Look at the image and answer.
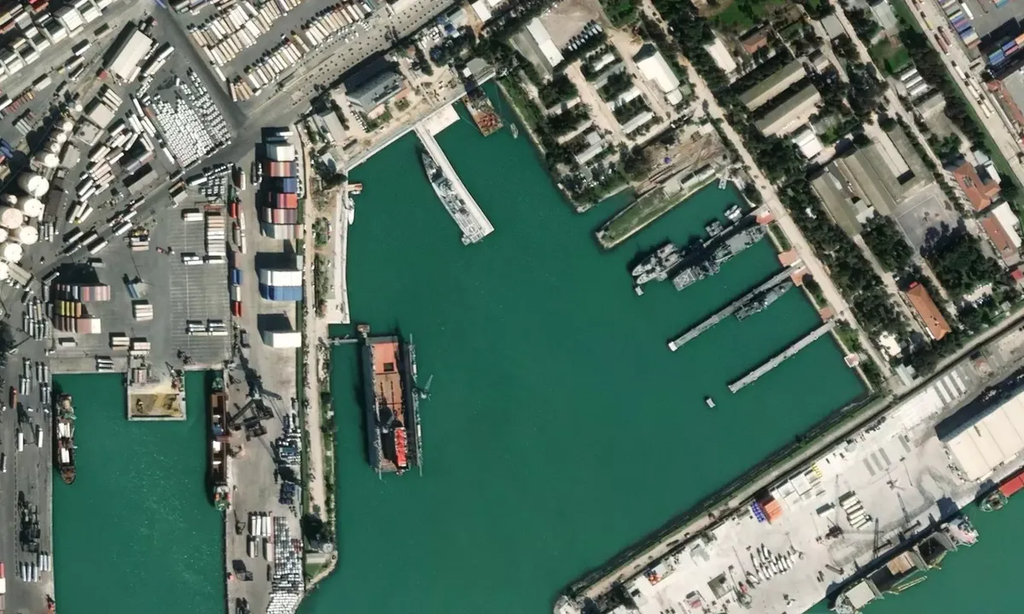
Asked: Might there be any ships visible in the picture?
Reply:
Yes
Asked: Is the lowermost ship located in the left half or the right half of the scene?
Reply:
right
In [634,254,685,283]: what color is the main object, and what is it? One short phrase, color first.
gray ship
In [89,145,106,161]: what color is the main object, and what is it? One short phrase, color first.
white vehicle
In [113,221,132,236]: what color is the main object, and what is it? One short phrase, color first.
white vehicle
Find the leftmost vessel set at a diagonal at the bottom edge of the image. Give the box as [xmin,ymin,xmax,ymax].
[825,514,985,613]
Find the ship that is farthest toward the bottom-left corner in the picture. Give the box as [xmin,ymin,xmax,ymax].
[52,391,83,484]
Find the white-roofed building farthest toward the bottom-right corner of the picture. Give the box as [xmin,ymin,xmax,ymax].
[940,389,1024,481]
